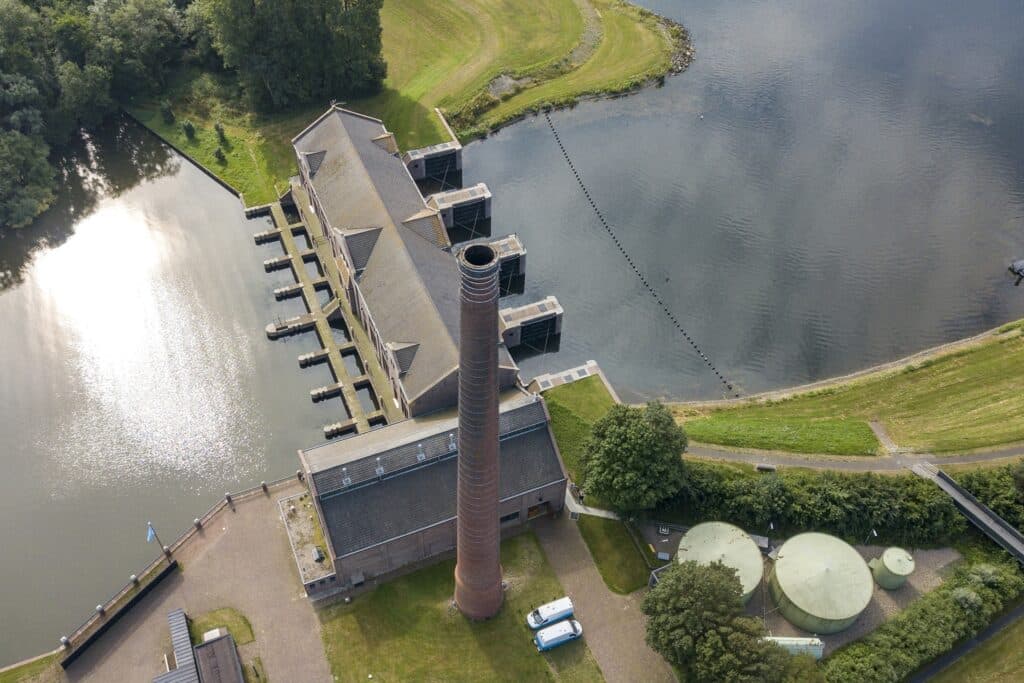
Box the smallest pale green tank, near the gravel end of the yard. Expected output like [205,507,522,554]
[873,546,915,590]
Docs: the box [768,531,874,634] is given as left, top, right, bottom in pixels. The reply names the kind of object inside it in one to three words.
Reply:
storage tank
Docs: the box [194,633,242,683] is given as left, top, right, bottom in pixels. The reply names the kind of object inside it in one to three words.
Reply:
shed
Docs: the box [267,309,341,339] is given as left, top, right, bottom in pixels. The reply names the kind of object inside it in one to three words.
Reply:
pier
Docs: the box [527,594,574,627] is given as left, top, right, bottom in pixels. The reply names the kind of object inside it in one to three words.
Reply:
van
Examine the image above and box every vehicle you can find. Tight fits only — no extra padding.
[536,617,583,648]
[527,594,574,627]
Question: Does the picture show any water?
Yes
